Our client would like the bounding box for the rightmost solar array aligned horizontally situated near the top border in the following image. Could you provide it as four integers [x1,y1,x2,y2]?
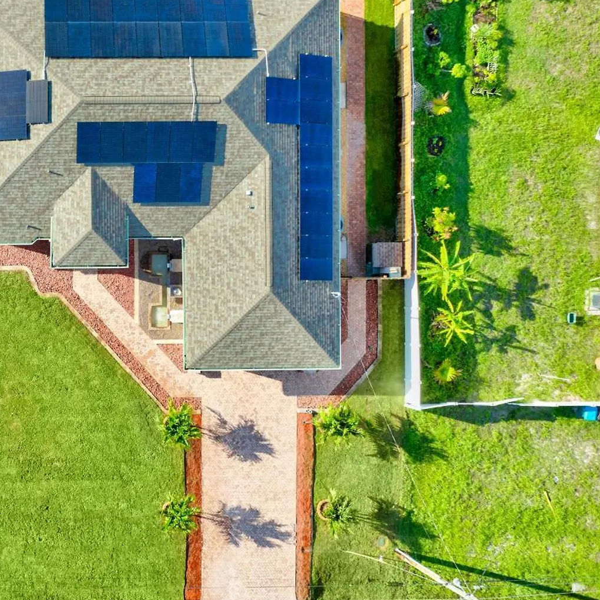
[45,0,253,59]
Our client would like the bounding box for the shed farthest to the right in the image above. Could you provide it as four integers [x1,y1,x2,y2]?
[364,244,399,270]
